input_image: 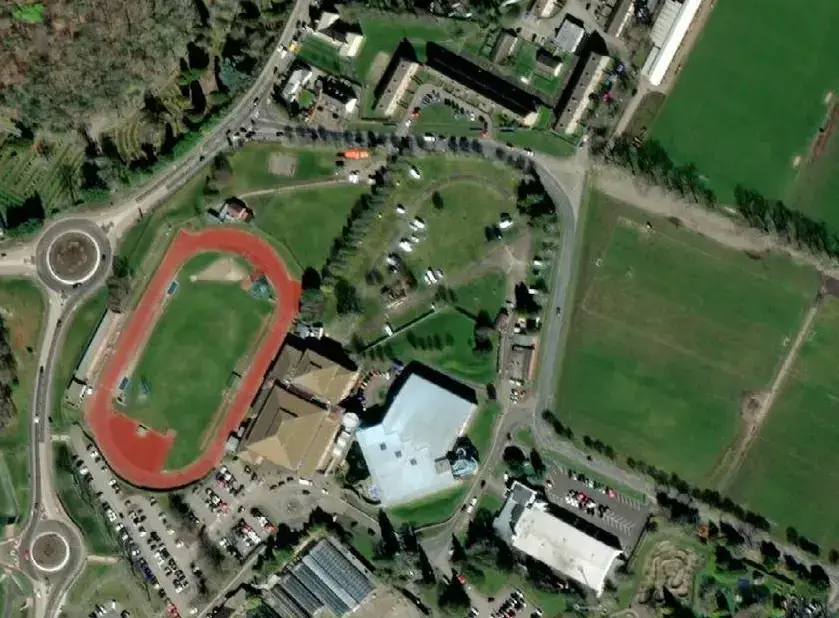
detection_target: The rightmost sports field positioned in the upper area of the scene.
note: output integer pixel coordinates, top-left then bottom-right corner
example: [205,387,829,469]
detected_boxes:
[792,120,839,252]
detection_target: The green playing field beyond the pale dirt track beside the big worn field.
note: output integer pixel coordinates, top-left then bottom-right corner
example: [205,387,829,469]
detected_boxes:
[738,299,839,552]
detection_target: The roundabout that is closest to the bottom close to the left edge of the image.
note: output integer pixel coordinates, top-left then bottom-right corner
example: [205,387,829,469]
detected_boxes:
[15,516,85,586]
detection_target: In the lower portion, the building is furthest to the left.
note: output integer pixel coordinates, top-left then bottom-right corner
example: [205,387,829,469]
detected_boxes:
[67,379,87,404]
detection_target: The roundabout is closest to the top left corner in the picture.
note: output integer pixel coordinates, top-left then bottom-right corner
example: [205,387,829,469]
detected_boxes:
[33,216,114,297]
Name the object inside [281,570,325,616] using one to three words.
greenhouse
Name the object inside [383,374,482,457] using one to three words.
building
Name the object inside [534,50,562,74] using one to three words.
house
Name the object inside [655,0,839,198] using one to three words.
sports field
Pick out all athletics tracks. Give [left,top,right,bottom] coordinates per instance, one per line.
[86,229,301,489]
